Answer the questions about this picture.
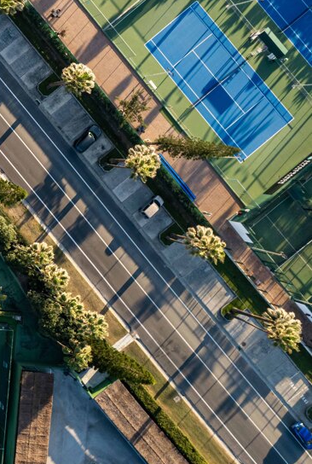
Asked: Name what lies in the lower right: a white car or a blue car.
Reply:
blue car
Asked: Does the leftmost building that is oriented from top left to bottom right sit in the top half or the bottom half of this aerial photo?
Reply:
bottom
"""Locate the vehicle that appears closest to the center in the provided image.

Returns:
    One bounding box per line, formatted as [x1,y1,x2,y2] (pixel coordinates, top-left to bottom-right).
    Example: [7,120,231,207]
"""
[140,195,165,217]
